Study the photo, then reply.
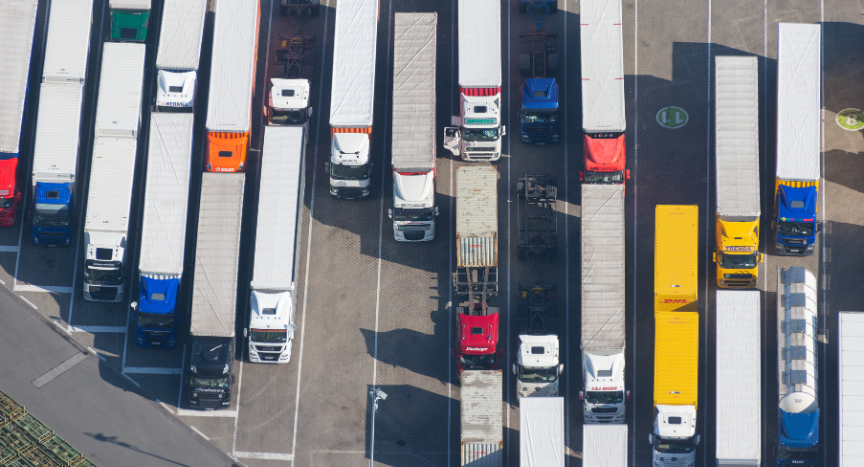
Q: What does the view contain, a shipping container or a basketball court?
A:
shipping container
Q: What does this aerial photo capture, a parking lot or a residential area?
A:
parking lot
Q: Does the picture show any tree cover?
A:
No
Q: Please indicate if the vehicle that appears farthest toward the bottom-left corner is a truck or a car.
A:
truck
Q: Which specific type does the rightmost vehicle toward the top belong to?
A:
truck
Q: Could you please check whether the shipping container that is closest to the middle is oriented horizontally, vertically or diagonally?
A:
vertically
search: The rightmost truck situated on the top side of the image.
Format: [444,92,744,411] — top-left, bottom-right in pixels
[770,22,824,254]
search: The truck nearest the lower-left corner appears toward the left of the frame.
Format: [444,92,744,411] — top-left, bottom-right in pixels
[77,232,130,301]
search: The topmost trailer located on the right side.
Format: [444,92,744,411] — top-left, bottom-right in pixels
[518,0,559,34]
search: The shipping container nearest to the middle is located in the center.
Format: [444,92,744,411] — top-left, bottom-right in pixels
[456,166,499,269]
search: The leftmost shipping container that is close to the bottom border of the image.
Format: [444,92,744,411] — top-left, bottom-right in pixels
[460,369,504,467]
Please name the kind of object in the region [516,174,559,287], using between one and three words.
trailer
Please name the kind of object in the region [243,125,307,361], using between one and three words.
truck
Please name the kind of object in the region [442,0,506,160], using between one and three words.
truck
